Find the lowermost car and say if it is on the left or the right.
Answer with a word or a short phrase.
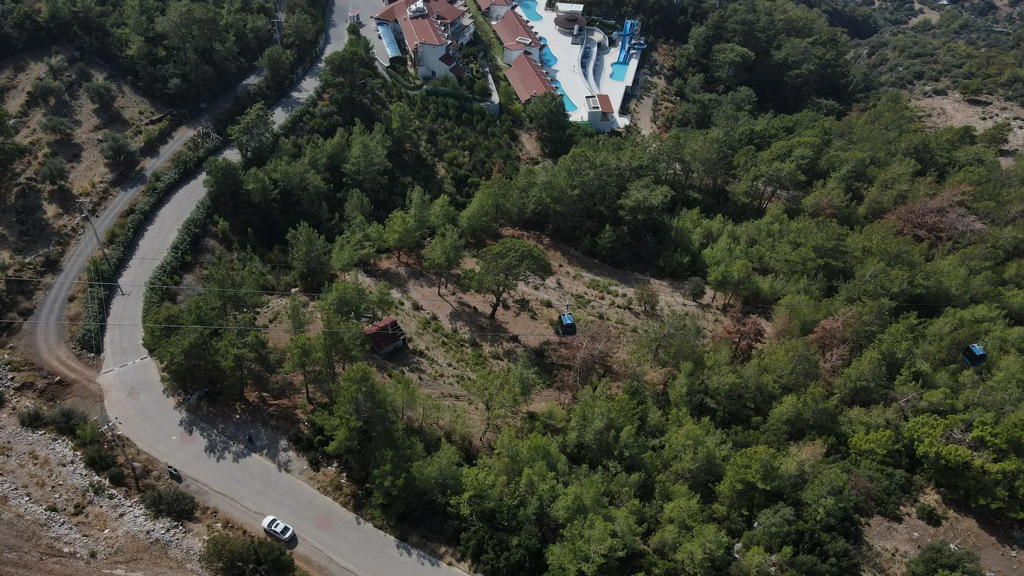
left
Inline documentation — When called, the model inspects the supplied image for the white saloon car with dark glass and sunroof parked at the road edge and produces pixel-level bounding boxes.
[260,514,293,539]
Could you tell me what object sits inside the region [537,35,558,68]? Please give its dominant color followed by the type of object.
blue swimming pool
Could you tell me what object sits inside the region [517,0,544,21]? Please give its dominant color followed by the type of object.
blue swimming pool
